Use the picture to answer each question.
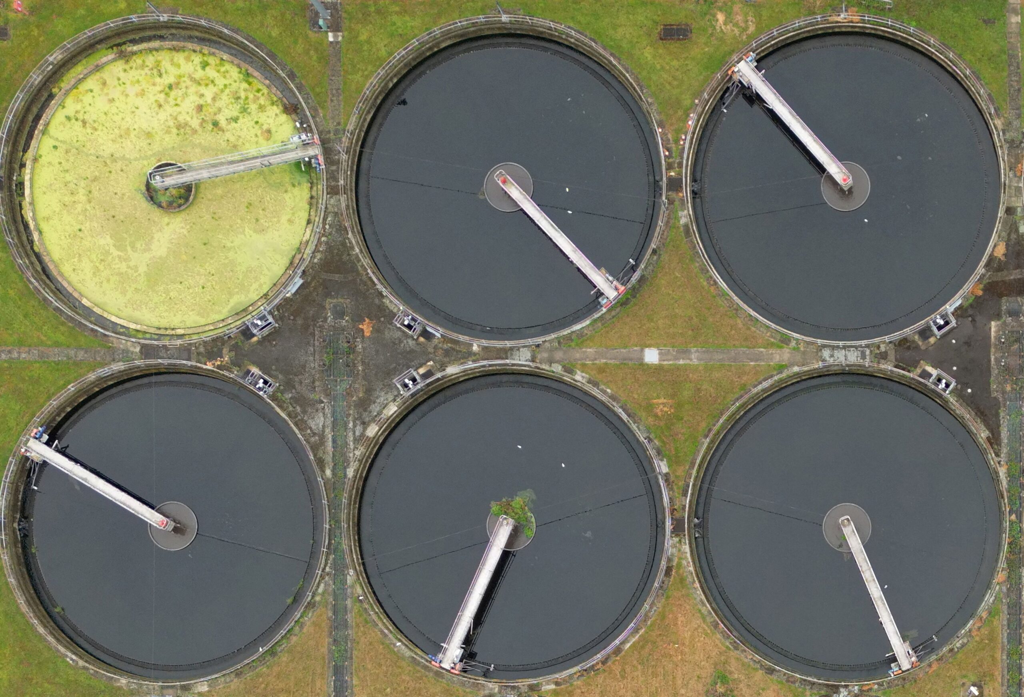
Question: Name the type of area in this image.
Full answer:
This looks like an industrial area.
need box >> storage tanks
[683,359,1011,692]
[0,358,333,691]
[342,357,673,690]
[340,12,672,350]
[0,13,332,351]
[682,12,1010,349]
